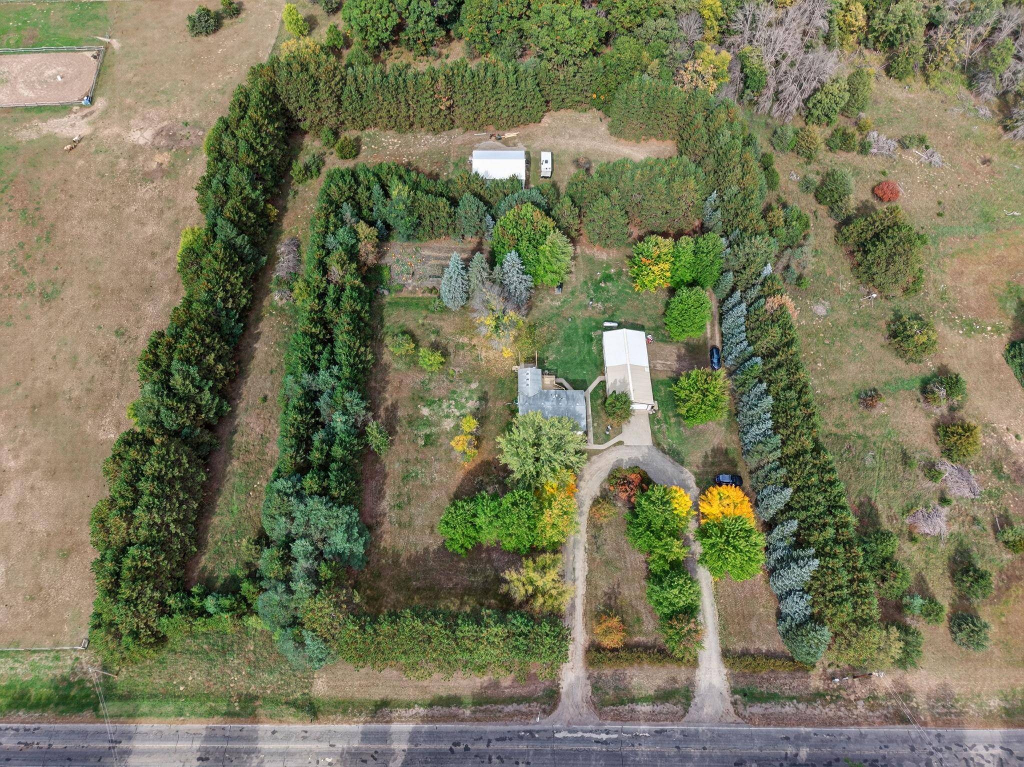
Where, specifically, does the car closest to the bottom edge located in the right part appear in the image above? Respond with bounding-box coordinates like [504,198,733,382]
[714,475,743,489]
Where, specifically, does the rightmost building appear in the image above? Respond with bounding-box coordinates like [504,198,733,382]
[602,328,655,410]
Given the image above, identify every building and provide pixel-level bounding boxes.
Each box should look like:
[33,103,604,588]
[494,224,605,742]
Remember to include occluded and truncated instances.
[472,150,525,190]
[602,328,655,410]
[518,366,587,440]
